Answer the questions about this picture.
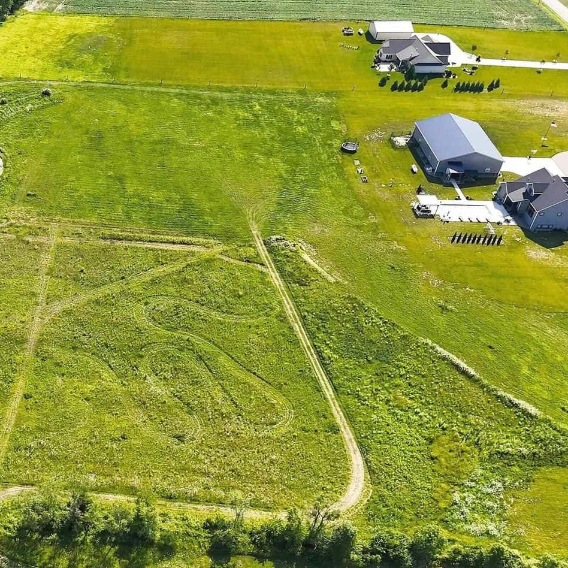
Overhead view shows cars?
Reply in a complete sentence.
No, there's no car here.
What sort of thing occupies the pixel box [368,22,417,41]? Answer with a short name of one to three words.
shed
